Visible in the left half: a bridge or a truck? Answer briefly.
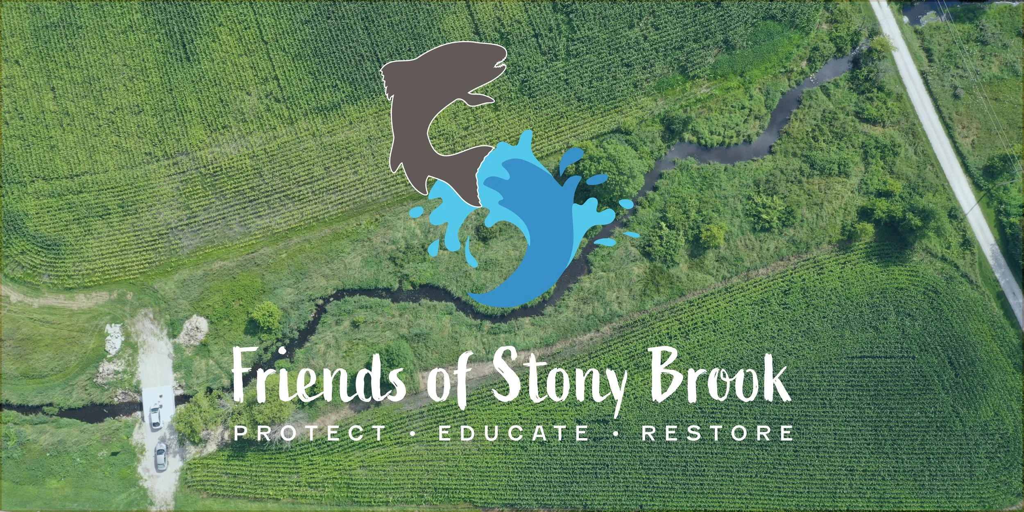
bridge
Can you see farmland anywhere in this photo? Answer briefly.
Yes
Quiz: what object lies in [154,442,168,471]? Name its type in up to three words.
car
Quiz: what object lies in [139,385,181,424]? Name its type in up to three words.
bridge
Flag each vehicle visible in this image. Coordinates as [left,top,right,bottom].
[154,442,168,471]
[148,404,163,431]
